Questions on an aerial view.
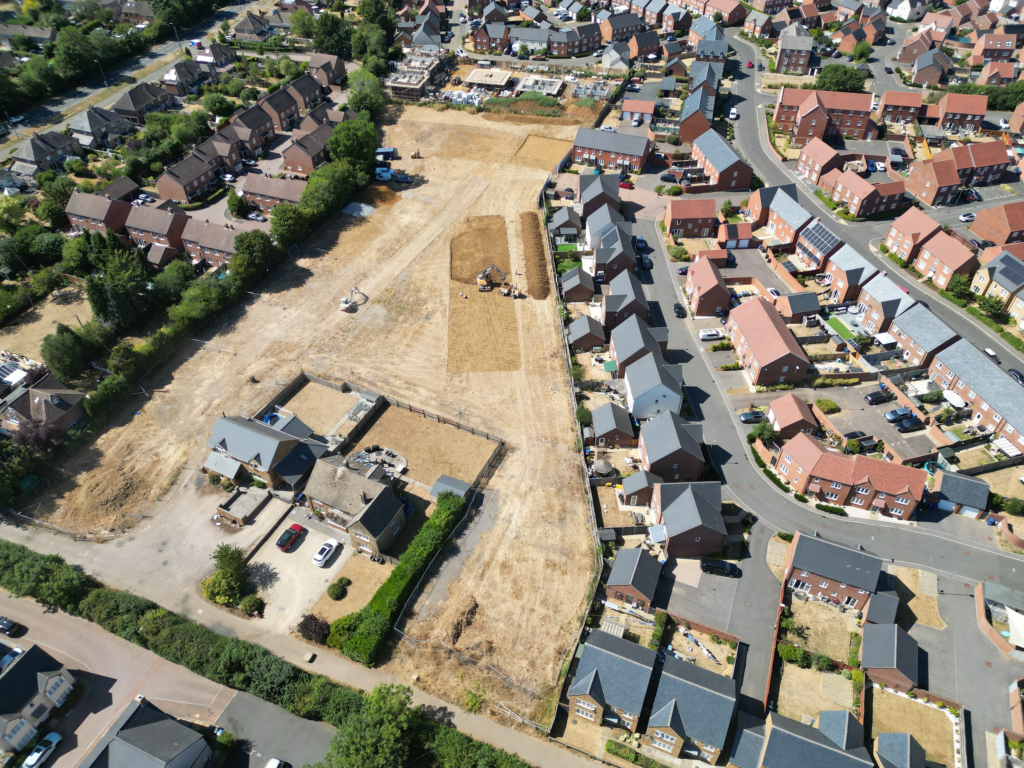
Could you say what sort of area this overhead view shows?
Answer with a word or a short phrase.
residential area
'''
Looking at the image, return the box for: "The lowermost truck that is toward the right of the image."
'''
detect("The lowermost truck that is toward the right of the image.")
[702,553,738,577]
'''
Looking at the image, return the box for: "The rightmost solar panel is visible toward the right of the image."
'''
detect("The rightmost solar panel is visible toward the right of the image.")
[993,254,1024,281]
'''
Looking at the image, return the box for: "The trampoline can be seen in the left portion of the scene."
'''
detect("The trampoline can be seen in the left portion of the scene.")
[397,492,416,513]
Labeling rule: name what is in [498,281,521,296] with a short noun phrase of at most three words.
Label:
vehicle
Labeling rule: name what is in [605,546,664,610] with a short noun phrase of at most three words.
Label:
building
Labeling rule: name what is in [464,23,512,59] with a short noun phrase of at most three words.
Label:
house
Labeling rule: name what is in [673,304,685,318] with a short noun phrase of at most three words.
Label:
vehicle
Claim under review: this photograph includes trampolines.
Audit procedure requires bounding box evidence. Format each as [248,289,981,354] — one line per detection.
[924,454,952,473]
[397,492,416,513]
